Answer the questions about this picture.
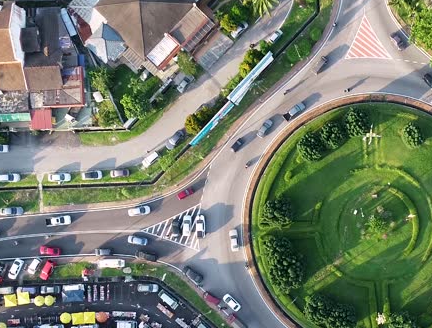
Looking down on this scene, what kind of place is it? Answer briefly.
residential area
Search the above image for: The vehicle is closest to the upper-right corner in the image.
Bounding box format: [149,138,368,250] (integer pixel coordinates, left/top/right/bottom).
[390,32,404,51]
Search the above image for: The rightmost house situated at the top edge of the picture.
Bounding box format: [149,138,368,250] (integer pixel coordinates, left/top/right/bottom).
[68,0,219,76]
